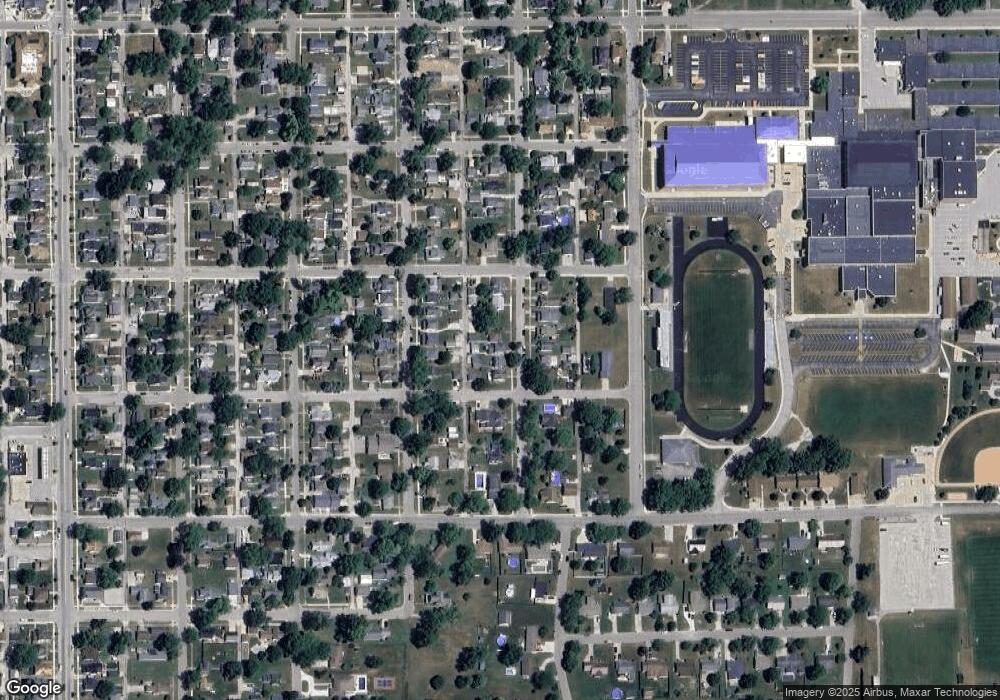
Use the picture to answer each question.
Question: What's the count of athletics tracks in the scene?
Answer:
1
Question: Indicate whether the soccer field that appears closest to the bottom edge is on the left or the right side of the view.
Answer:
right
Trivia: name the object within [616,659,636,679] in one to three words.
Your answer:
house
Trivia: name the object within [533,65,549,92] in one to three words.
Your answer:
house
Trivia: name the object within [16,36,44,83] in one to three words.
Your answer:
building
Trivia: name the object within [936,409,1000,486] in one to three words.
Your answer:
baseball field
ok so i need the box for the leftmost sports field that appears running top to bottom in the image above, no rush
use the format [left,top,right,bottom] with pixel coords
[684,249,754,429]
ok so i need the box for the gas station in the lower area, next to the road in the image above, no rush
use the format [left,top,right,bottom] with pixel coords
[8,434,26,476]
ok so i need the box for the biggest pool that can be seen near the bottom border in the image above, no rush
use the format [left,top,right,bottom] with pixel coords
[355,673,368,691]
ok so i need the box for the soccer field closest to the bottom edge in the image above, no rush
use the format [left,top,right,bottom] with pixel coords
[880,612,957,700]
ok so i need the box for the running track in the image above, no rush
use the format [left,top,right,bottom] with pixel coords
[673,217,765,439]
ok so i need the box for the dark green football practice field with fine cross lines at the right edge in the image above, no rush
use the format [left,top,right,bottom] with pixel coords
[962,528,1000,677]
